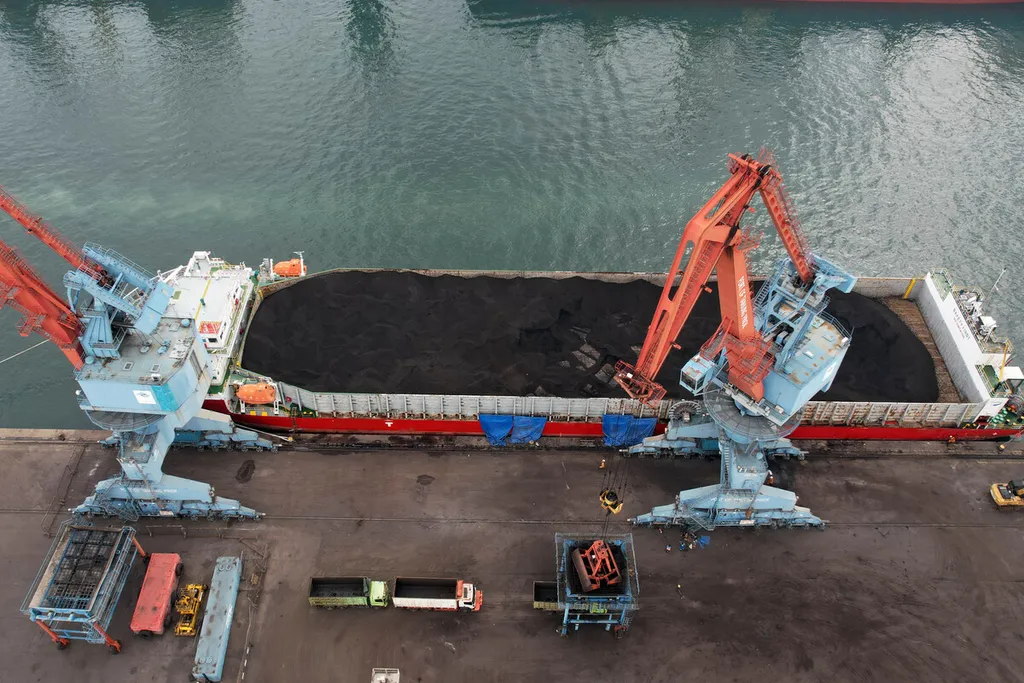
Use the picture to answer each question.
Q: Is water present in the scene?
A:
Yes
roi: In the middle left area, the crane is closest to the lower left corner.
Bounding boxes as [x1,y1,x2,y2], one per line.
[0,192,281,534]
